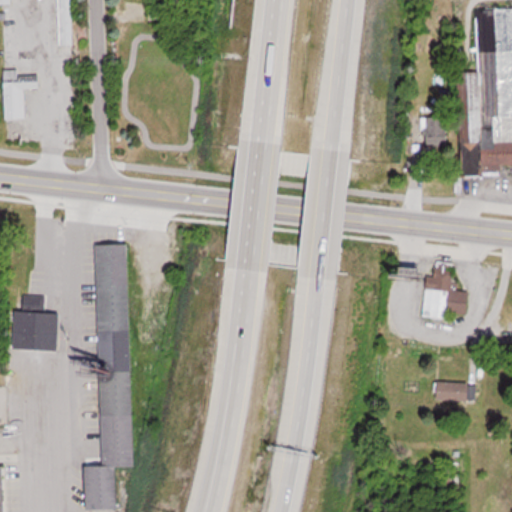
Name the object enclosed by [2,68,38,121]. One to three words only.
building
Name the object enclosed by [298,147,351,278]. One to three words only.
overpass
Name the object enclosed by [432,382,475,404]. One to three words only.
house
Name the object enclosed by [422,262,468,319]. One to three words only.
building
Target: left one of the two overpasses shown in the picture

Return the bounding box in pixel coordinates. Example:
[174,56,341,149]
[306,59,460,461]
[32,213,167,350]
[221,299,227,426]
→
[224,140,282,272]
